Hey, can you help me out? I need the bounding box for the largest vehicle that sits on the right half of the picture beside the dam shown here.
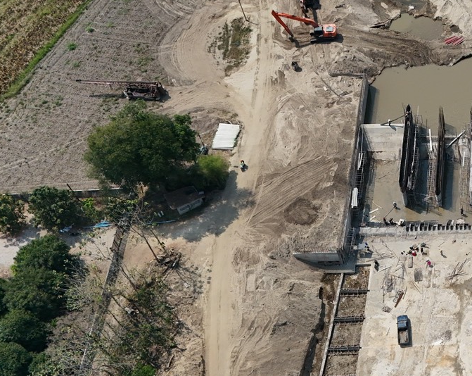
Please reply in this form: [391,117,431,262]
[269,7,340,43]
